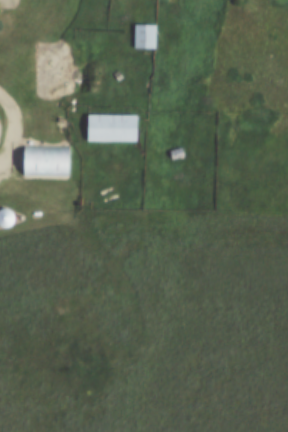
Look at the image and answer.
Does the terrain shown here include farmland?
Yes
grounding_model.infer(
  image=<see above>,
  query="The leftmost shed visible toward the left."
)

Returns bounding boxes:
[24,146,70,176]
